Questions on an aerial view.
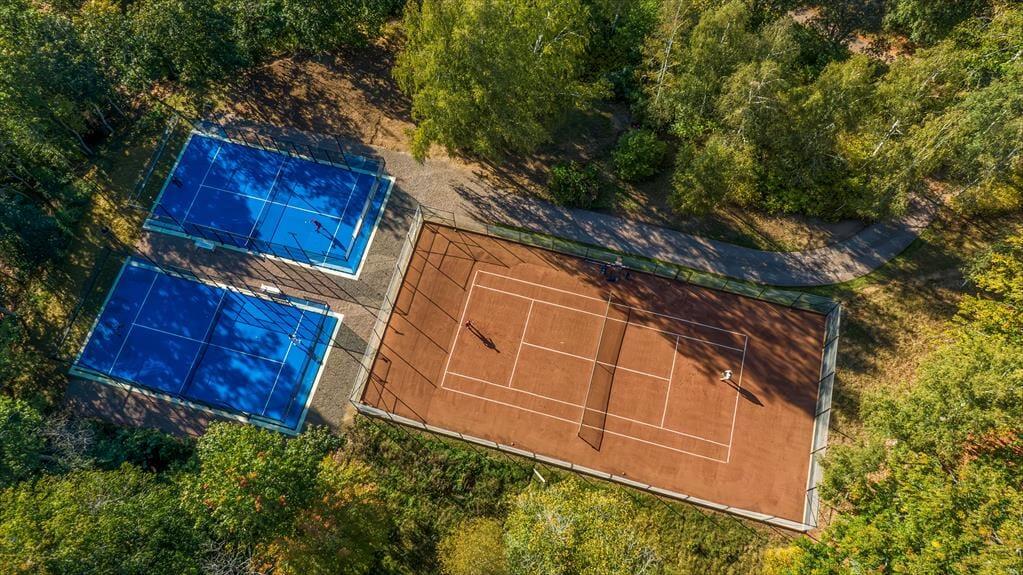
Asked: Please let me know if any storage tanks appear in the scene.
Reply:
No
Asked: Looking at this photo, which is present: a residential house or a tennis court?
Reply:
tennis court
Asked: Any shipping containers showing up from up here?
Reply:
No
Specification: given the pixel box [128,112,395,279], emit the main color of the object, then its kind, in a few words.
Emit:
blue sports court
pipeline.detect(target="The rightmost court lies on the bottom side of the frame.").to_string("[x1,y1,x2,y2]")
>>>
[360,223,825,528]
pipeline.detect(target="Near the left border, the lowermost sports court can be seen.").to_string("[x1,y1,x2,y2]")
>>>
[46,245,342,433]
